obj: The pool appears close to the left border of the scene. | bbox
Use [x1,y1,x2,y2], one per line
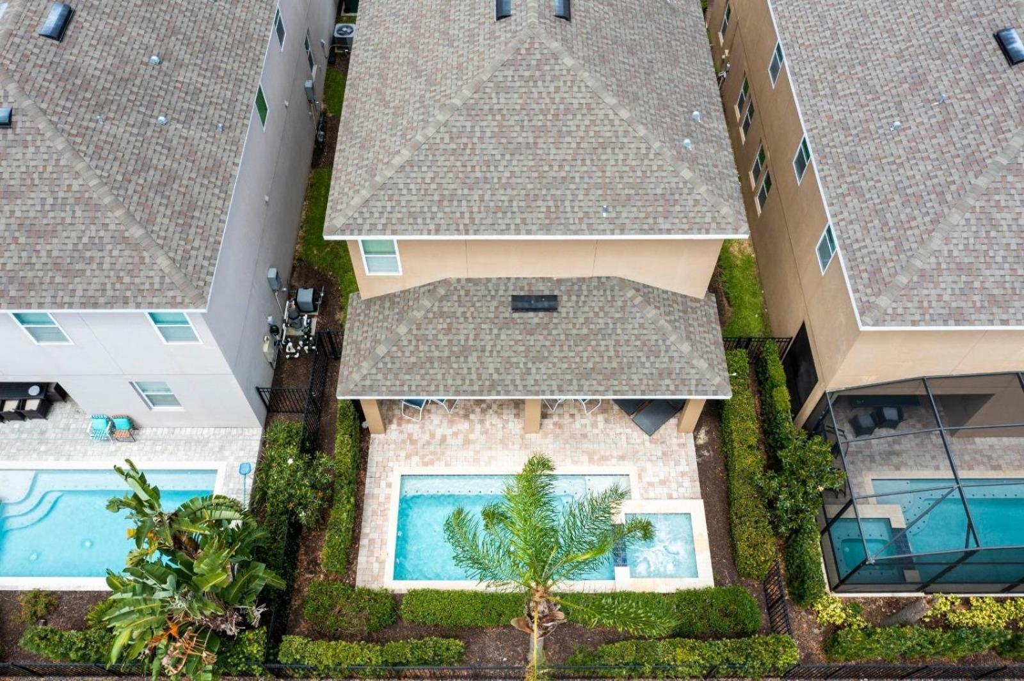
[0,461,230,589]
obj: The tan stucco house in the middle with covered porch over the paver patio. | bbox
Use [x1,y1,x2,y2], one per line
[318,0,751,434]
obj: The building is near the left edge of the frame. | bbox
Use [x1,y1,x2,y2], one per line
[0,0,340,427]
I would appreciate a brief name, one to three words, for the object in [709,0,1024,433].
house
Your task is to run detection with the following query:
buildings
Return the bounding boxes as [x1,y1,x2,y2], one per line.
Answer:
[318,0,751,434]
[0,0,340,427]
[709,0,1024,433]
